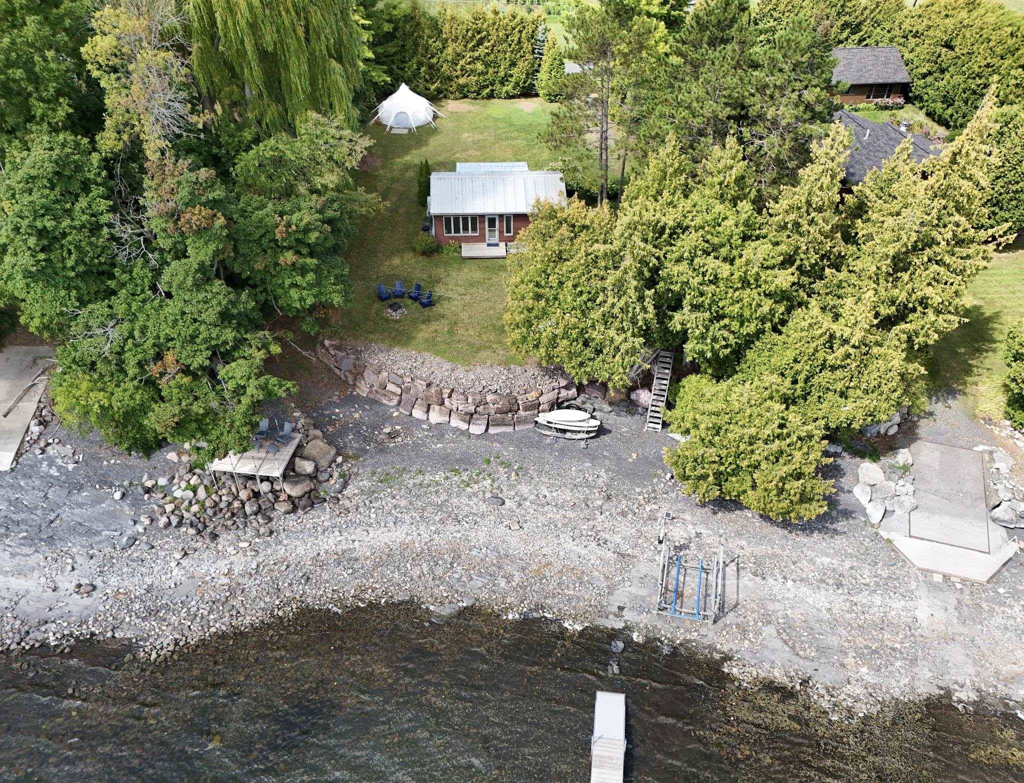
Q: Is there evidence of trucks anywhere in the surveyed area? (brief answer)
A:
No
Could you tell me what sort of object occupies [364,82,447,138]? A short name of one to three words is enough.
tent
